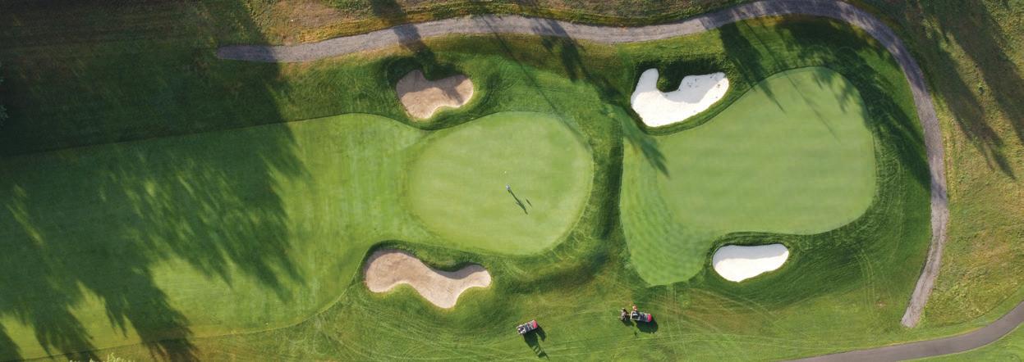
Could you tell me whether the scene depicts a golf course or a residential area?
golf course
